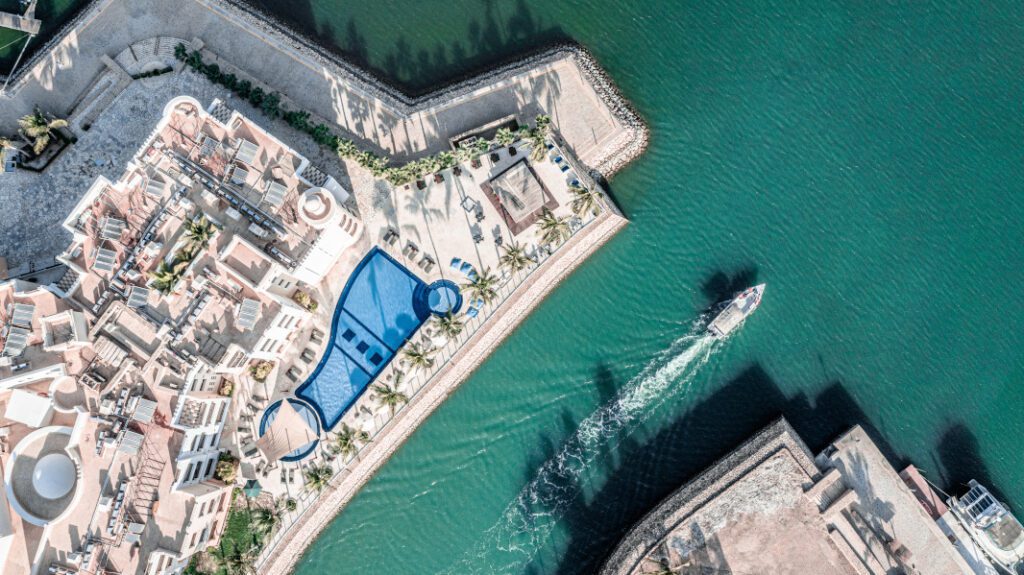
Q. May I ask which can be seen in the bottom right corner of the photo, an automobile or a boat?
boat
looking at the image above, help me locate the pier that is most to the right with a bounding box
[897,464,995,575]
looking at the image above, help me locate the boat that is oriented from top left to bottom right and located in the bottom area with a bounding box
[946,475,1024,572]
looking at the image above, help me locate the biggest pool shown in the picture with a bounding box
[296,247,431,433]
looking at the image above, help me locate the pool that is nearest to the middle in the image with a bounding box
[427,280,462,315]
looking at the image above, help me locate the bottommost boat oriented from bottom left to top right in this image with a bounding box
[708,283,766,339]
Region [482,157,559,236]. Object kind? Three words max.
building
